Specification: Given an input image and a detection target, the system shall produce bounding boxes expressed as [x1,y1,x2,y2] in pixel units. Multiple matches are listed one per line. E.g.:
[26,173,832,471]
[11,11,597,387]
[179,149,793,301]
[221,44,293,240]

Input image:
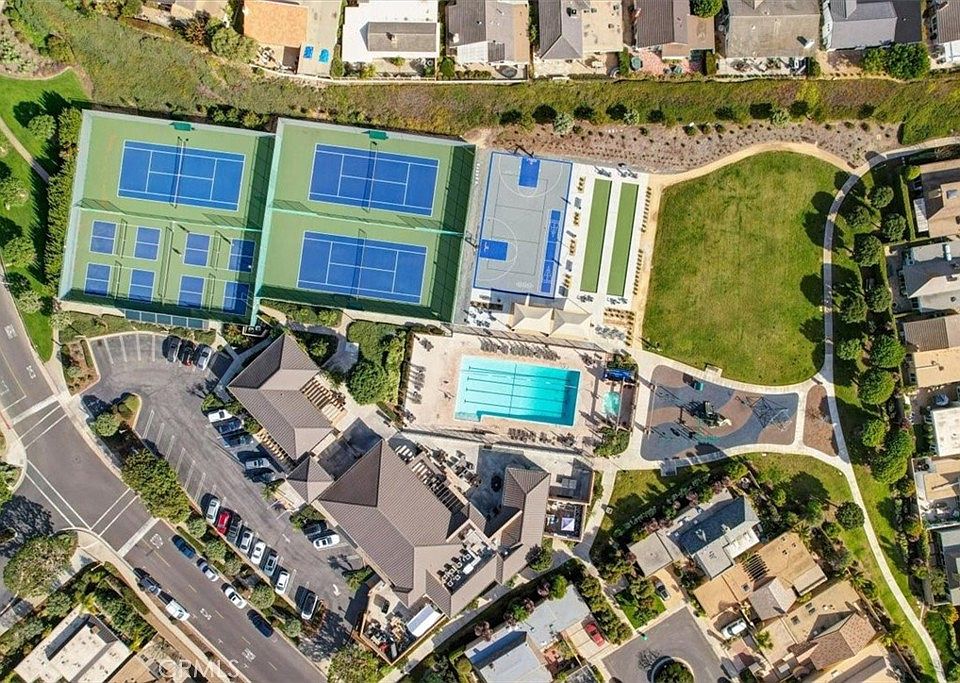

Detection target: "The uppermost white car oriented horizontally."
[207,409,233,423]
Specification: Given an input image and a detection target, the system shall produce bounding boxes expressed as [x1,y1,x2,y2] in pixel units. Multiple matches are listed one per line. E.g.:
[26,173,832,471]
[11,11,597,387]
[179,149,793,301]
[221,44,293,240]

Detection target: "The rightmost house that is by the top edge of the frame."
[931,6,960,63]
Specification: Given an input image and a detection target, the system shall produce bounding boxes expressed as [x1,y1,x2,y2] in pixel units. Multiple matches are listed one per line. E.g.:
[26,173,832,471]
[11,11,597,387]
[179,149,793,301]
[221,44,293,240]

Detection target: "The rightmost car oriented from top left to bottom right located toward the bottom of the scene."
[652,575,672,601]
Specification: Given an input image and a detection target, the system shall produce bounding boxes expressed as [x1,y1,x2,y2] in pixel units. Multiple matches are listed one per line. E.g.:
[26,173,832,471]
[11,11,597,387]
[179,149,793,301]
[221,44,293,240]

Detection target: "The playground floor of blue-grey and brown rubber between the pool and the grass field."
[641,365,800,461]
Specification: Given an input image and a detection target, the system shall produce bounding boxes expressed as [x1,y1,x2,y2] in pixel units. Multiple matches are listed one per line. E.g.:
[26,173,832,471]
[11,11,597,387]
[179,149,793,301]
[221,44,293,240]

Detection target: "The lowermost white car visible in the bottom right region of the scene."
[719,616,746,637]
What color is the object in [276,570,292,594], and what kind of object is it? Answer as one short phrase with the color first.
white car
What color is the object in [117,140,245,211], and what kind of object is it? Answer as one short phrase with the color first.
blue tennis court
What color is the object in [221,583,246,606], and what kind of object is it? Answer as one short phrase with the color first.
white car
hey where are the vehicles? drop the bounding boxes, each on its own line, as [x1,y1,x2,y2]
[276,570,292,594]
[166,339,183,365]
[314,533,340,549]
[246,457,272,469]
[133,566,164,593]
[216,509,232,535]
[252,540,268,564]
[240,527,256,555]
[652,575,672,601]
[300,523,328,540]
[226,434,253,446]
[719,616,746,637]
[227,519,244,545]
[215,420,243,433]
[263,550,280,577]
[207,409,233,423]
[221,583,246,606]
[159,588,190,616]
[248,610,274,634]
[181,341,196,367]
[584,620,605,646]
[205,496,223,524]
[301,589,319,617]
[196,345,214,370]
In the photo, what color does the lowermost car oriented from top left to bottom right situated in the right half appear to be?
red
